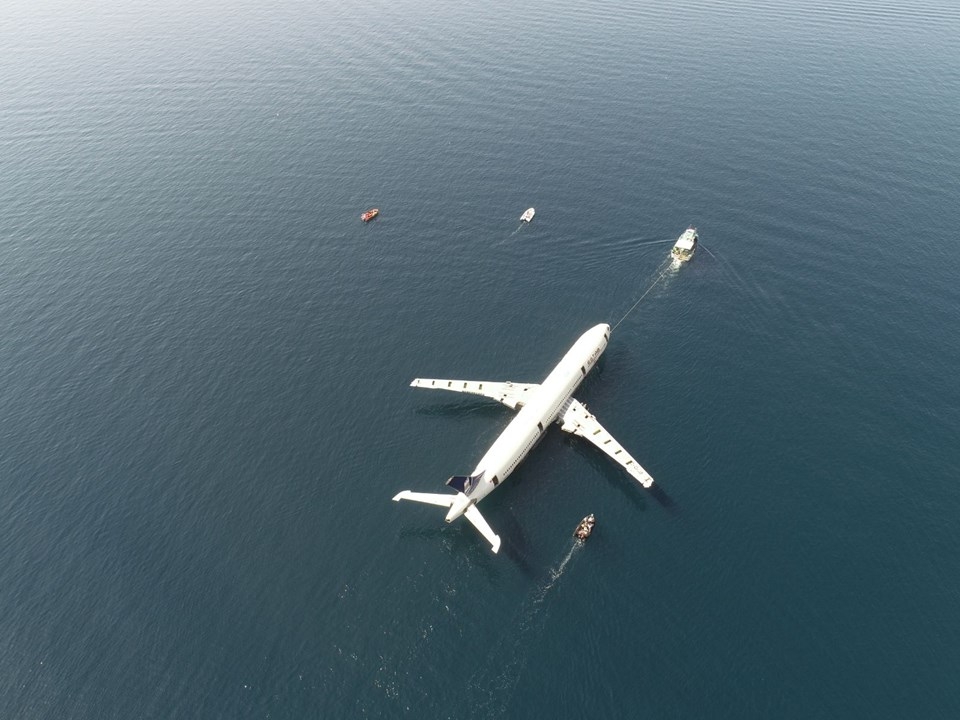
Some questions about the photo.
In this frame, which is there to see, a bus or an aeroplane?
aeroplane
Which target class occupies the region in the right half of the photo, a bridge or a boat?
boat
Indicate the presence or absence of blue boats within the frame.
No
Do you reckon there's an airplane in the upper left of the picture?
No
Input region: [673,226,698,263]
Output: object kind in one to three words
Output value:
boat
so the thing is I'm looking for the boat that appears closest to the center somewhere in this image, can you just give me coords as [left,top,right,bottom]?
[520,208,535,221]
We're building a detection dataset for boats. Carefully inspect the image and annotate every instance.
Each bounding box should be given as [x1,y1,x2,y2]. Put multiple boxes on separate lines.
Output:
[573,514,593,539]
[673,226,698,263]
[520,208,535,221]
[361,209,379,220]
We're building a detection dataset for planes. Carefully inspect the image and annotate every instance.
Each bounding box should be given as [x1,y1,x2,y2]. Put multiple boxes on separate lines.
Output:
[393,324,653,554]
